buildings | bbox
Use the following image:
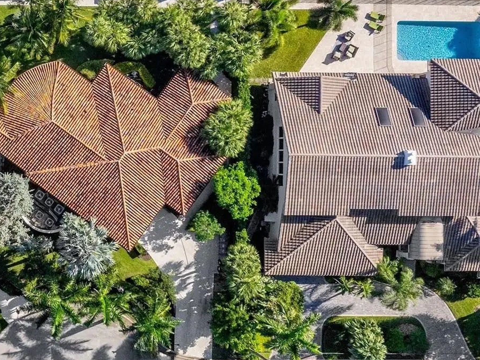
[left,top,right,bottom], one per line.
[258,59,480,275]
[0,61,233,251]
